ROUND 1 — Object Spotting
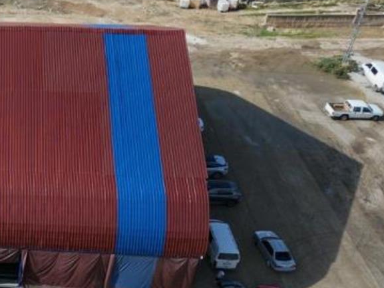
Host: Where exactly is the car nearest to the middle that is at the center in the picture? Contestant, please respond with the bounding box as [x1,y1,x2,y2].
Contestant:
[207,157,228,180]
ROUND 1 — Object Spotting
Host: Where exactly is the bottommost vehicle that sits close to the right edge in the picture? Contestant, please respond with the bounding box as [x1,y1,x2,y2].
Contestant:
[325,100,384,123]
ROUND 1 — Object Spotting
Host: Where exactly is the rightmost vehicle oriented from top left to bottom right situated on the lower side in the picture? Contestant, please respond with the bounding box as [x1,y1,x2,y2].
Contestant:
[251,231,301,270]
